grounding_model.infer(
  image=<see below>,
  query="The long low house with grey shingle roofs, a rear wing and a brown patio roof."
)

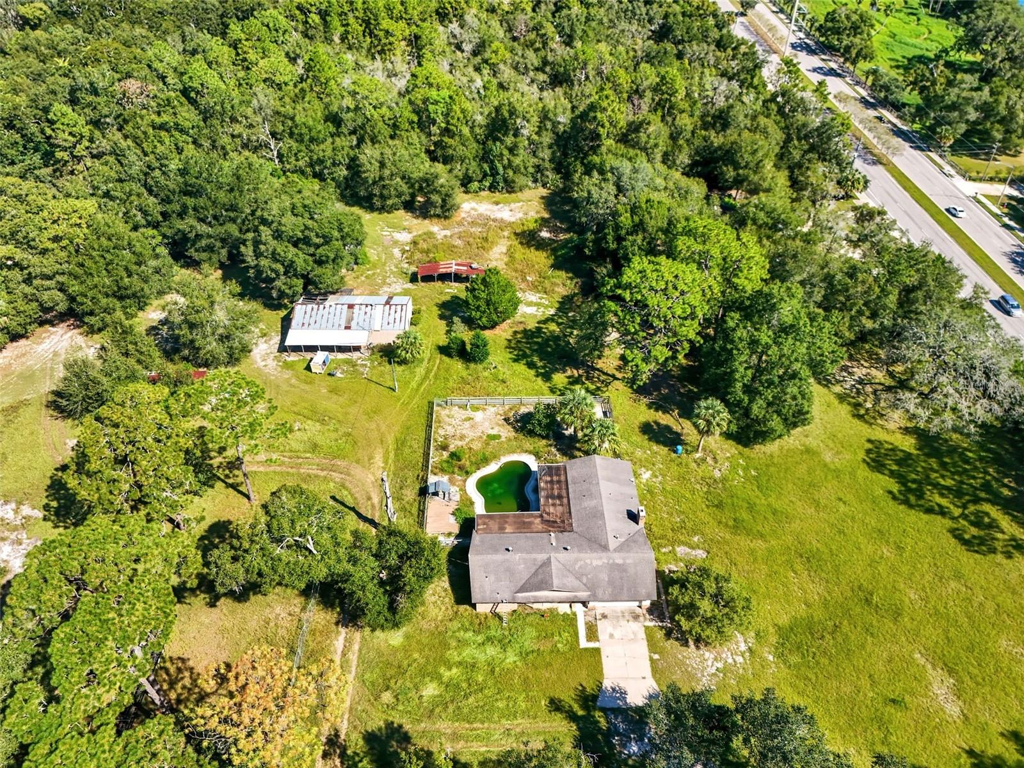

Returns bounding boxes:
[469,454,657,616]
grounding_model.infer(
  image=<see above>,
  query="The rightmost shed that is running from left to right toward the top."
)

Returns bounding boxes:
[418,261,486,286]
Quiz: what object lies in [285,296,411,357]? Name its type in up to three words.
barn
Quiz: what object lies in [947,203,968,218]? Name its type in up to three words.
car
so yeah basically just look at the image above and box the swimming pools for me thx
[465,452,539,512]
